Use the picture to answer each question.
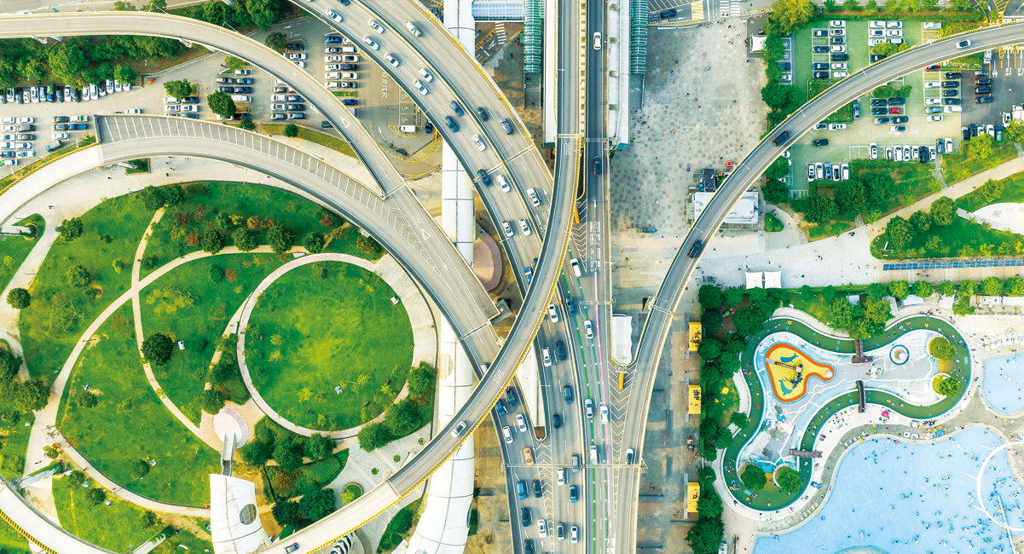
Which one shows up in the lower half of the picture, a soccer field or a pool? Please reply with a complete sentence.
You can see a pool in the lower half of the picture.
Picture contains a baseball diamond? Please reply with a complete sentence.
No, no baseball diamond can be seen from above.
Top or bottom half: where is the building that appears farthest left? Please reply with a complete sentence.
The building that appears farthest left is in the bottom half of the image.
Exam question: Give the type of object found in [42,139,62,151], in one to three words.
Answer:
vehicle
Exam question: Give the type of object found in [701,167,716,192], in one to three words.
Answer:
building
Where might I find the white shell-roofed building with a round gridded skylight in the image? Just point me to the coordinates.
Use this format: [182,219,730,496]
[210,471,272,554]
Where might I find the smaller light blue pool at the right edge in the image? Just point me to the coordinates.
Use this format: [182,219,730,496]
[978,349,1024,418]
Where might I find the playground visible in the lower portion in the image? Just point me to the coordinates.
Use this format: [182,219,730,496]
[741,332,941,476]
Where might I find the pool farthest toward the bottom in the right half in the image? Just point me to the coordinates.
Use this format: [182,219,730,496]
[750,423,1024,554]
